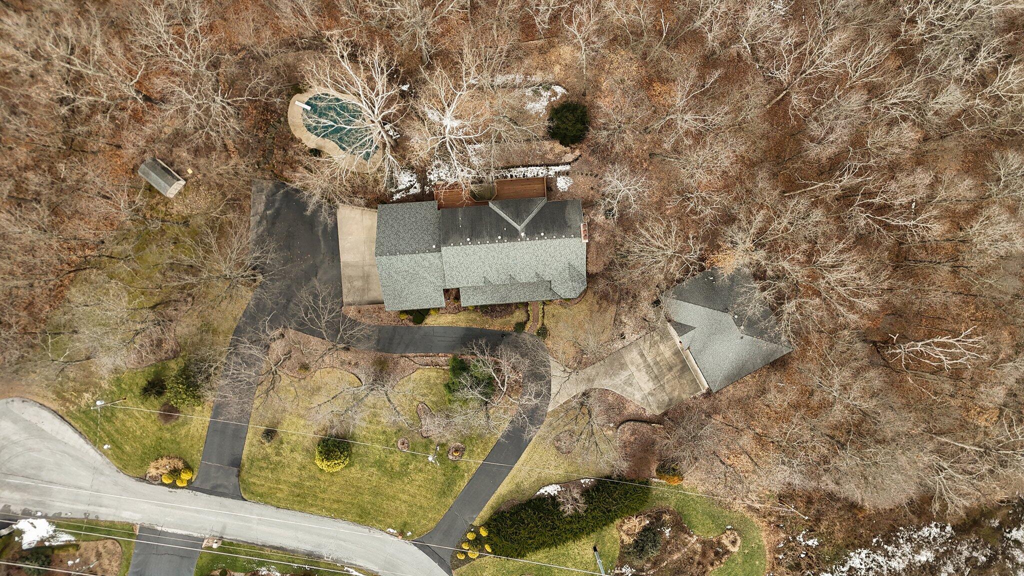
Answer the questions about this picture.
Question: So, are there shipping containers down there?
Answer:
No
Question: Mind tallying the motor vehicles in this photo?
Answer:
0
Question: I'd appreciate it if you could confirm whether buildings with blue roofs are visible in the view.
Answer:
No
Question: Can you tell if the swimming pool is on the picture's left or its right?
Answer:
left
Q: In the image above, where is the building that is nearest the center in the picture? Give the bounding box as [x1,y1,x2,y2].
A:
[376,197,588,311]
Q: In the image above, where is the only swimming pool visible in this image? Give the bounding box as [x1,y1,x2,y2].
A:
[288,88,384,174]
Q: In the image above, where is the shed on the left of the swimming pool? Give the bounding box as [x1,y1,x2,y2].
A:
[133,154,185,197]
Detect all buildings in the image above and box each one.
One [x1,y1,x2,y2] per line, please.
[133,154,185,197]
[655,256,793,393]
[376,197,588,311]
